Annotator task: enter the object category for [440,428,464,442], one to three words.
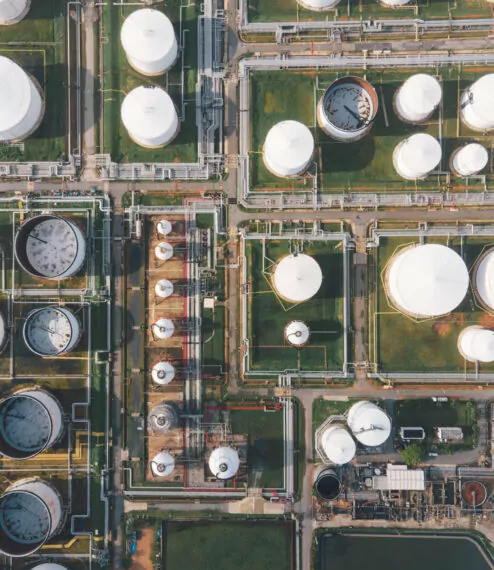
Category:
building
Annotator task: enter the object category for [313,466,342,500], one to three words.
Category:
storage tank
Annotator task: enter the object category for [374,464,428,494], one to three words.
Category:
building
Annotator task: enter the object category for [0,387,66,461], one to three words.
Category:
storage tank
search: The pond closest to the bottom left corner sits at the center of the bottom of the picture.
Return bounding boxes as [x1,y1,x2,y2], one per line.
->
[164,522,292,570]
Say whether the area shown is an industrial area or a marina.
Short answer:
industrial area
